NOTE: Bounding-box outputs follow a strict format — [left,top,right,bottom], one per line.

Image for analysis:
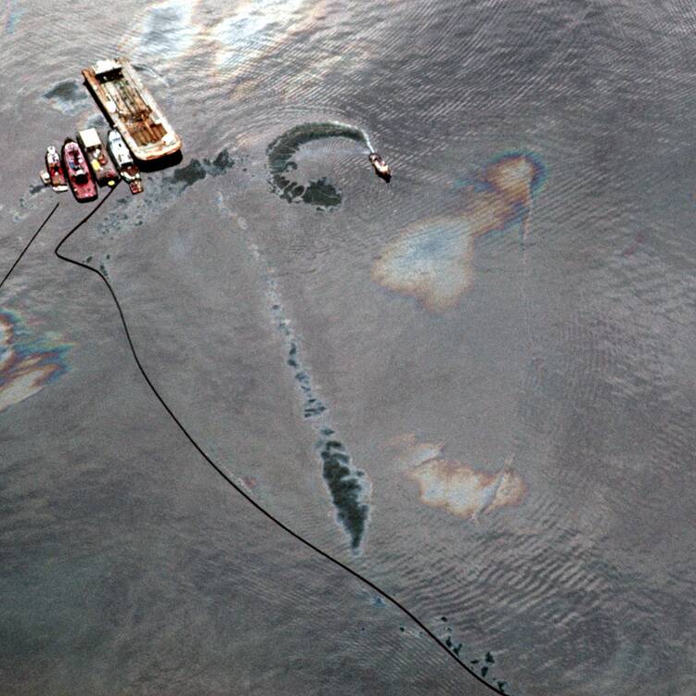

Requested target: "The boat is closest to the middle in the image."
[369,153,389,178]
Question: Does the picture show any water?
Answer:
Yes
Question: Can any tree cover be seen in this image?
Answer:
No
